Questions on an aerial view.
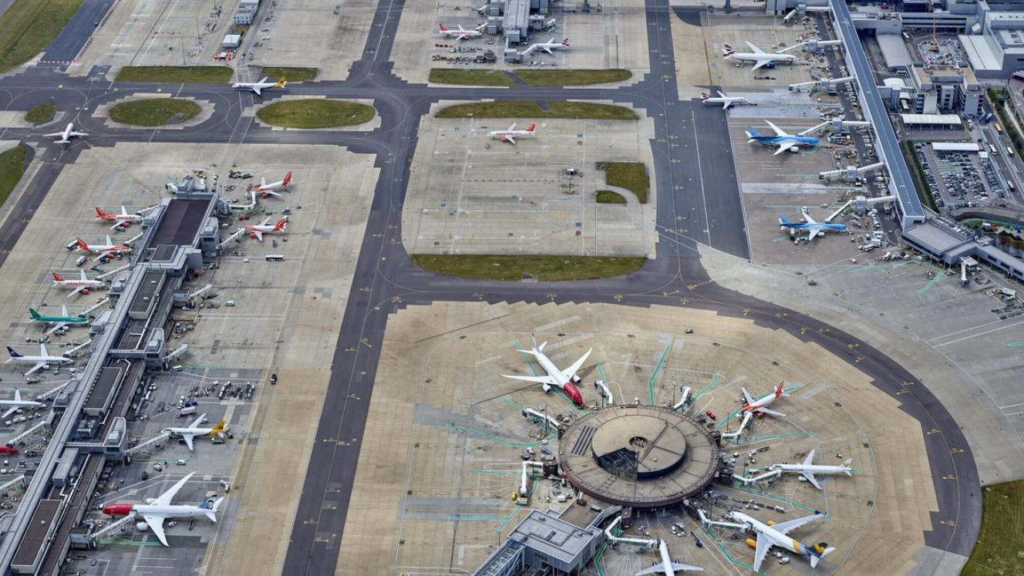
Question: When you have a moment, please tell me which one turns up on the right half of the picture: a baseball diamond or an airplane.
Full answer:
It is an airplane that can be seen on the right half of the picture.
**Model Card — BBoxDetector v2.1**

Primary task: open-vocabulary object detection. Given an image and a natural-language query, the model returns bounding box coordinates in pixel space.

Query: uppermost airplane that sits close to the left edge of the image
[44,123,89,142]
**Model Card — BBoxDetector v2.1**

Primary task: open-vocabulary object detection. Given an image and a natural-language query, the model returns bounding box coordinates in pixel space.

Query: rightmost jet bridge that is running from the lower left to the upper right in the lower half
[721,410,753,444]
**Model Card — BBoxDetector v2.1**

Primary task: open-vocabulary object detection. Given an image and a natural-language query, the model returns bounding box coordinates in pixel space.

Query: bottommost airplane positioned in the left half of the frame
[102,469,223,543]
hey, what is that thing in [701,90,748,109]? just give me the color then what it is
white airplane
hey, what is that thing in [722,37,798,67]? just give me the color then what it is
white airplane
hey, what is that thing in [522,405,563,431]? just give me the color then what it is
white jet bridge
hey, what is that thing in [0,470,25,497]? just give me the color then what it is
white jet bridge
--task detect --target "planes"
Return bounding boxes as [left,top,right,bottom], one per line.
[102,469,223,543]
[7,338,71,374]
[247,213,291,238]
[232,75,286,93]
[438,23,482,41]
[769,448,852,488]
[637,548,706,576]
[507,331,594,403]
[745,116,820,152]
[701,90,748,109]
[76,231,131,261]
[779,208,848,240]
[172,412,228,450]
[50,267,103,295]
[0,380,46,420]
[739,375,791,415]
[28,302,88,333]
[722,37,798,67]
[730,499,843,569]
[245,169,295,196]
[93,204,142,228]
[0,441,20,456]
[487,120,536,141]
[44,123,89,142]
[528,35,567,55]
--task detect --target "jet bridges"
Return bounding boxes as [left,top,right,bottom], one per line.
[91,510,140,543]
[696,505,753,535]
[823,193,895,224]
[522,405,563,431]
[520,458,546,496]
[593,379,616,408]
[960,258,968,287]
[34,376,73,401]
[816,159,883,182]
[77,295,111,317]
[786,73,853,92]
[603,513,662,551]
[3,416,46,447]
[189,282,216,304]
[61,335,94,358]
[671,384,690,413]
[721,410,753,444]
[774,39,840,53]
[796,118,868,136]
[542,18,558,33]
[0,470,25,497]
[216,227,249,251]
[123,230,142,248]
[229,189,257,213]
[93,261,130,282]
[160,341,189,367]
[121,429,175,460]
[732,468,784,489]
[163,183,180,196]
